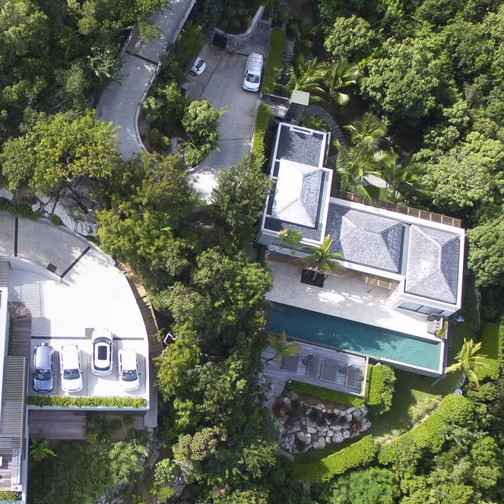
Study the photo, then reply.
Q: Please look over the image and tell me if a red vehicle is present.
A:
No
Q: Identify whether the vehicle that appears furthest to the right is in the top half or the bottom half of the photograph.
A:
top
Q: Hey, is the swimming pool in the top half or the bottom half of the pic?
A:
bottom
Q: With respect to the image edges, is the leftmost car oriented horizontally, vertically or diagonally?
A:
vertically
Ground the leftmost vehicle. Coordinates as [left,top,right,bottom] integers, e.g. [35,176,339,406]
[30,340,55,393]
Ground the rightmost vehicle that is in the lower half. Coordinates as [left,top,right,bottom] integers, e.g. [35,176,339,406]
[117,349,142,393]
